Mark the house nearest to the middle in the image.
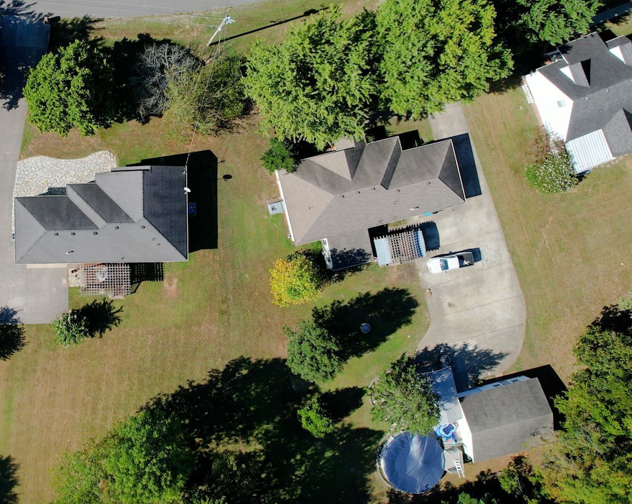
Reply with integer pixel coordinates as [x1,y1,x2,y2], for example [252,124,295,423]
[277,129,466,271]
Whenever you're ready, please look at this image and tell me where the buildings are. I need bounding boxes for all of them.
[521,20,632,173]
[277,129,466,271]
[14,166,190,264]
[456,374,554,464]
